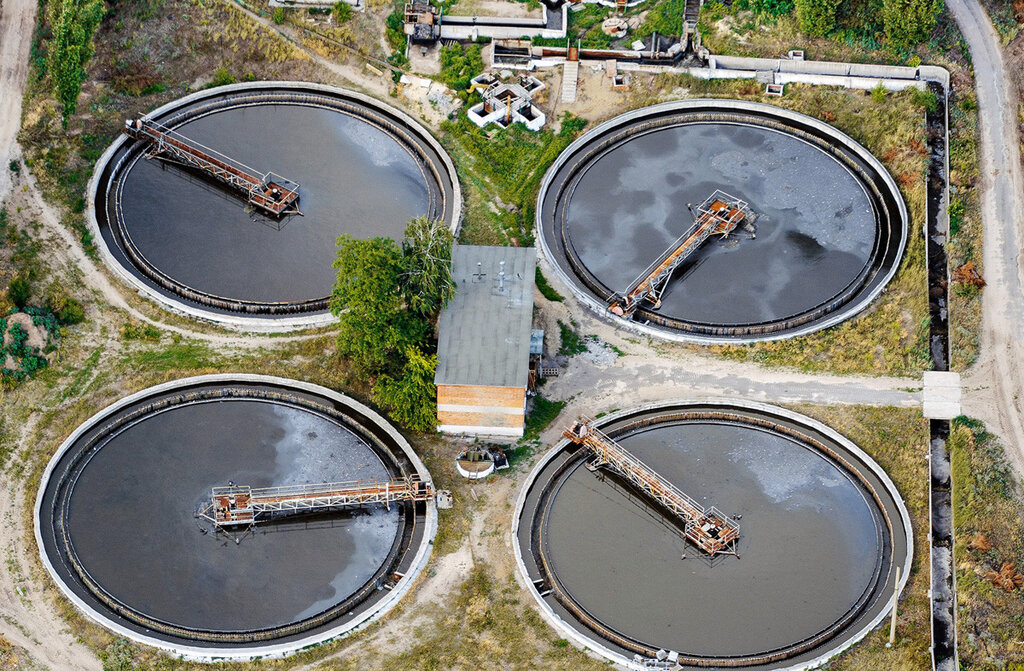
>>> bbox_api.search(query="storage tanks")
[87,81,461,329]
[514,398,914,671]
[31,376,437,661]
[536,99,909,348]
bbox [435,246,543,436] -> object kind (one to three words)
house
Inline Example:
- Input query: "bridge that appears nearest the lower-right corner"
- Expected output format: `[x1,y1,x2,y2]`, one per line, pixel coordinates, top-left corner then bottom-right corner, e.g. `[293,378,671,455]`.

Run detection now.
[922,373,961,420]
